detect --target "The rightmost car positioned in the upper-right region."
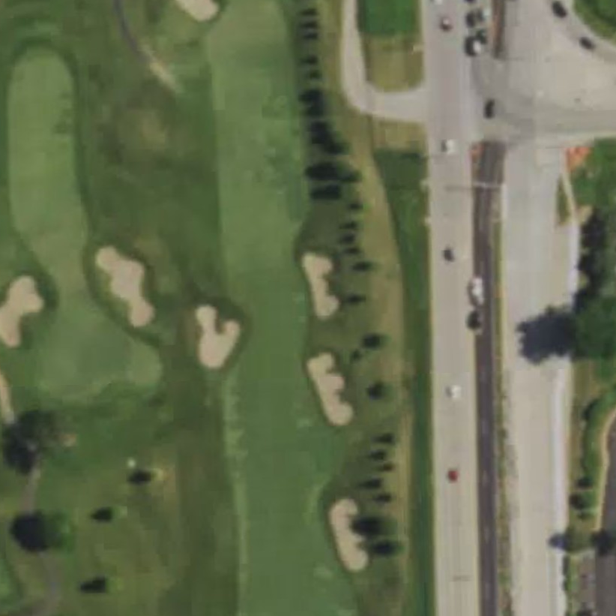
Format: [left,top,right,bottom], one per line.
[579,36,597,50]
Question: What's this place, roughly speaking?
golf course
